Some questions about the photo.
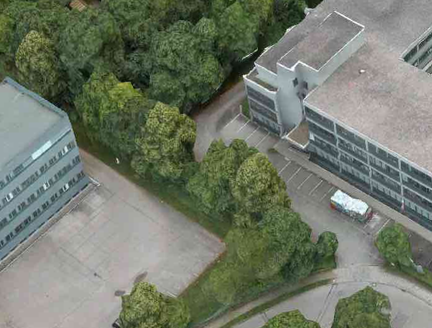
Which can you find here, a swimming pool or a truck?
truck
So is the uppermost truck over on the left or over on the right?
right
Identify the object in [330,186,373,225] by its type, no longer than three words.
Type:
truck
